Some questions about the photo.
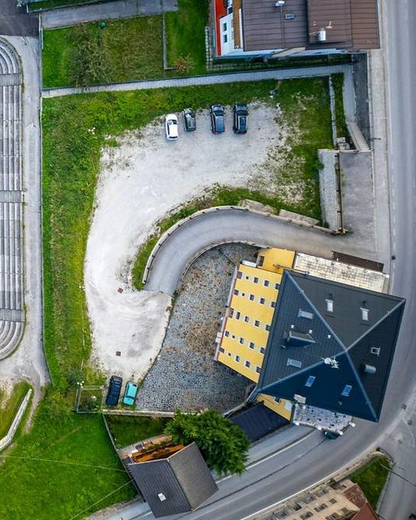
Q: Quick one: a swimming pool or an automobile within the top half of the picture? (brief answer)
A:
automobile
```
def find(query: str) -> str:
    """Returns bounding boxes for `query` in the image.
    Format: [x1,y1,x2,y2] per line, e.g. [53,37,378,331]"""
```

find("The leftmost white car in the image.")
[166,113,181,140]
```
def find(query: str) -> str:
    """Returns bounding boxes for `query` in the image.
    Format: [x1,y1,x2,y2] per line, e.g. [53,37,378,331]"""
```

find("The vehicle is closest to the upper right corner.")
[234,105,250,134]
